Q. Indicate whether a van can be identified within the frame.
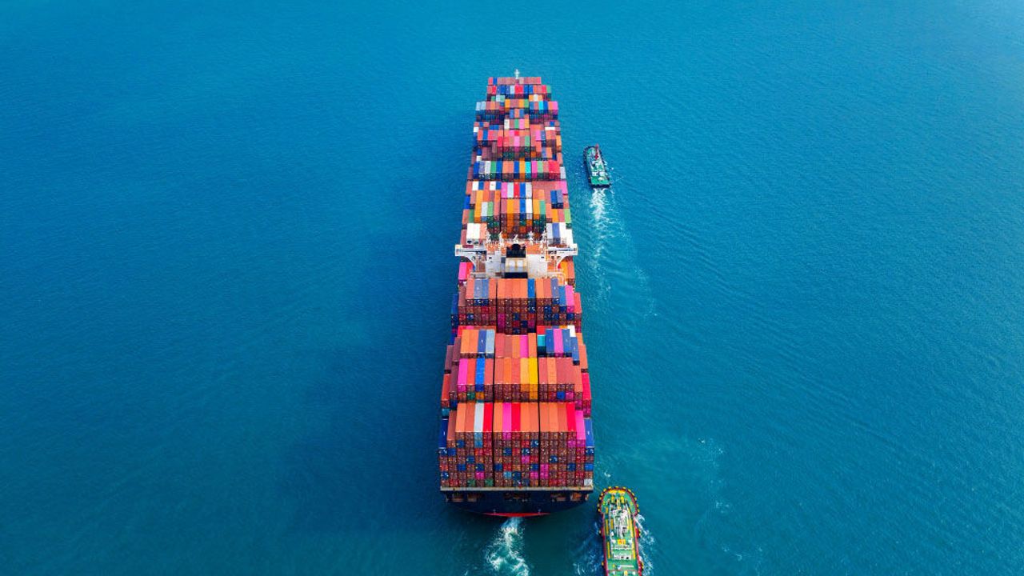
No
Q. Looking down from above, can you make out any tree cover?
No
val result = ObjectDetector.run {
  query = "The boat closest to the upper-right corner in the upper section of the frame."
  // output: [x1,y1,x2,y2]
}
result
[583,142,613,187]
